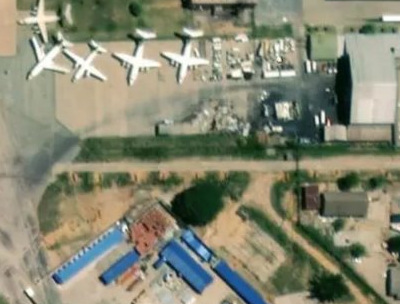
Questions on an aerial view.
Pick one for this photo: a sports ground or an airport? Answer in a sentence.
The area seen from above is an airport.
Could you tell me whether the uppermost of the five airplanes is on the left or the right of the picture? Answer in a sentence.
The uppermost of the five airplanes sits on the left side.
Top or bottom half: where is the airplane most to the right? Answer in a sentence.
Seen from above, the airplane most to the right lies in the top half of the view.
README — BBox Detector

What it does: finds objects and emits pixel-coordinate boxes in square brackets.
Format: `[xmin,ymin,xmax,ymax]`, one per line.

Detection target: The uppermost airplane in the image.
[19,0,70,41]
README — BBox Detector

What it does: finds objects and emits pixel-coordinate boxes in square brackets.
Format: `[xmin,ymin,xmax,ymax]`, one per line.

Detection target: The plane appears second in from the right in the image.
[116,31,163,83]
